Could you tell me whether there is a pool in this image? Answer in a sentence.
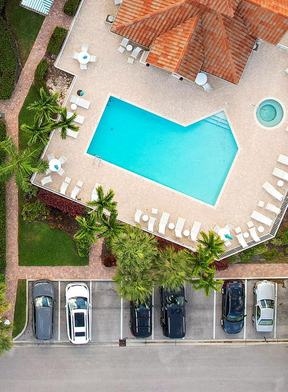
Yes, looking at the shot, I can spot a pool.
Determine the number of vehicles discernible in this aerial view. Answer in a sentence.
In total, there are 6 vehicles in the scene.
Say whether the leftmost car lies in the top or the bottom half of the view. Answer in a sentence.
The leftmost car is in the bottom half of the image.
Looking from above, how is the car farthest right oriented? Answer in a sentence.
The car farthest right is laid out vertically.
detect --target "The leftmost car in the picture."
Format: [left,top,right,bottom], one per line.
[30,280,57,339]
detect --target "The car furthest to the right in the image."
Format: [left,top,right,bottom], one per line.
[251,277,278,332]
